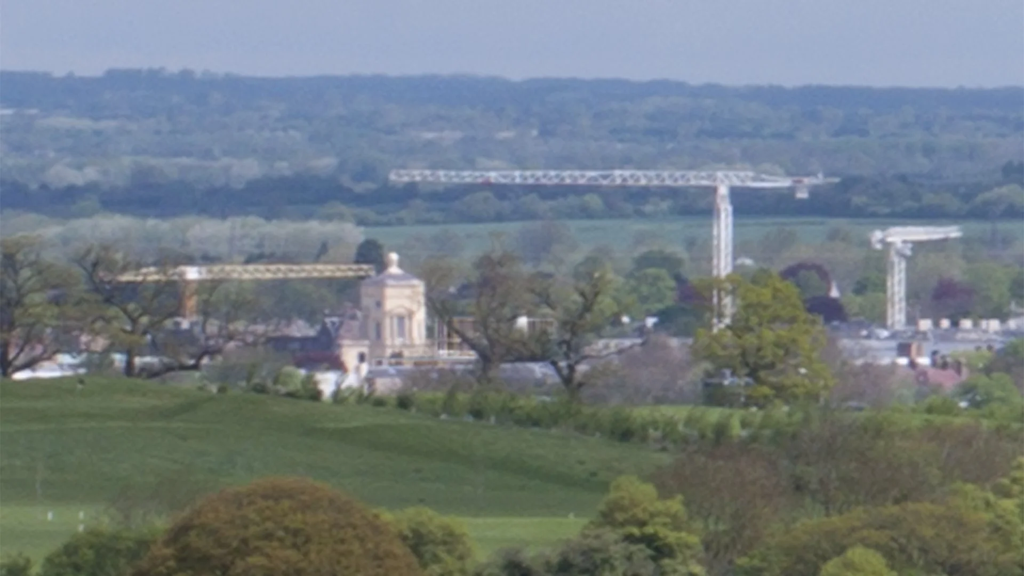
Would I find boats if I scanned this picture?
No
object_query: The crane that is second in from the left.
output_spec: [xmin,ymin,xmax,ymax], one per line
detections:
[397,169,840,373]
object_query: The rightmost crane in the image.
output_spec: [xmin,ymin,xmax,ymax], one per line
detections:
[873,230,959,325]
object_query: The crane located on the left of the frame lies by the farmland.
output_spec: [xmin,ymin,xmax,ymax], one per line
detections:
[119,263,376,340]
